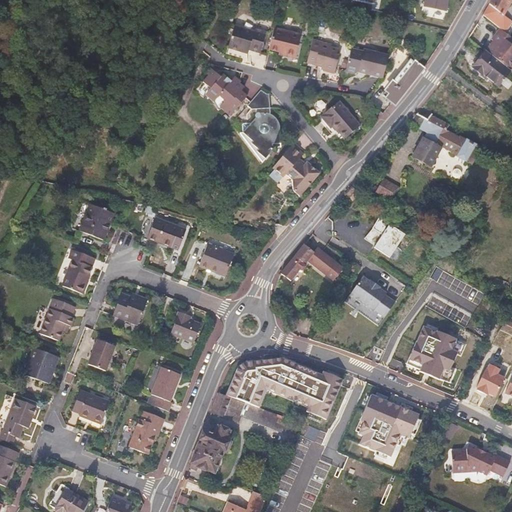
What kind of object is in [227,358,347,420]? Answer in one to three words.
building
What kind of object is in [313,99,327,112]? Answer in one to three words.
umbrella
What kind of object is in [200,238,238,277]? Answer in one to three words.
house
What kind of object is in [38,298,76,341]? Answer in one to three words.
house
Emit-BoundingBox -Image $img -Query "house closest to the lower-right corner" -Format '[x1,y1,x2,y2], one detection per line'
[452,442,512,481]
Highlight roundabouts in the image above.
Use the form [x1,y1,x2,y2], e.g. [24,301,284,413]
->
[222,300,274,351]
